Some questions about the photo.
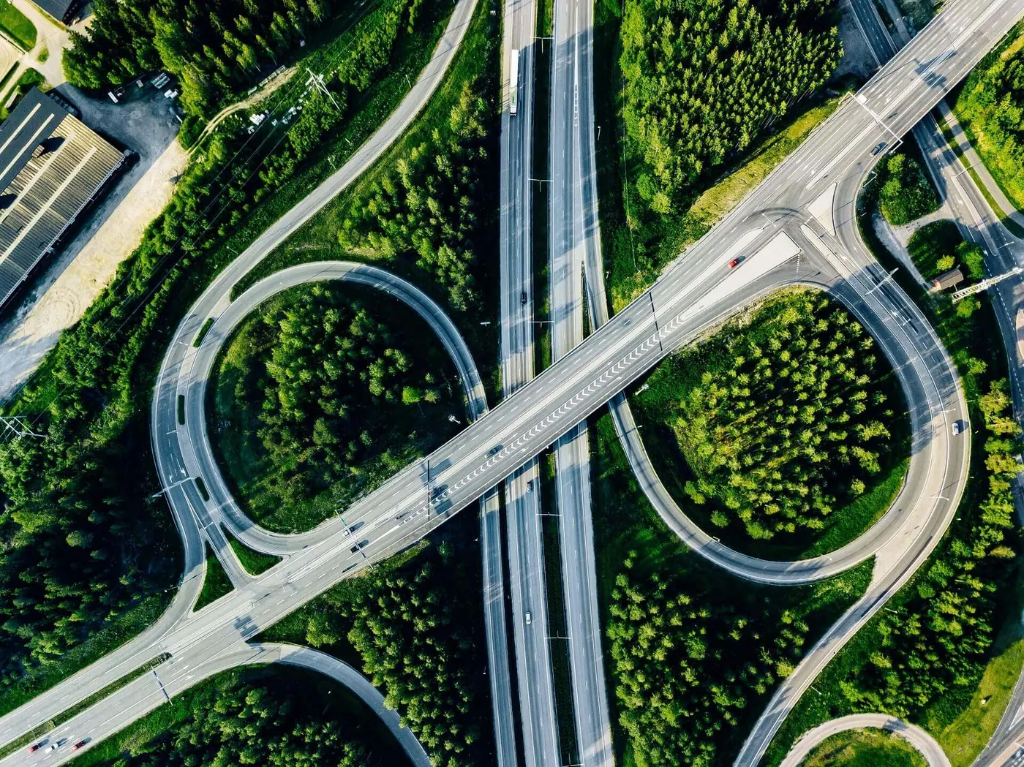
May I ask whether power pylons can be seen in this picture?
Yes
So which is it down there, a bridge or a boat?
bridge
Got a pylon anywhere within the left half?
Yes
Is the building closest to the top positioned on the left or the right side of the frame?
left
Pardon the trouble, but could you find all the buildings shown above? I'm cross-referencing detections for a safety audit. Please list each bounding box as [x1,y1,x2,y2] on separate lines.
[0,87,132,321]
[923,265,960,294]
[33,0,85,29]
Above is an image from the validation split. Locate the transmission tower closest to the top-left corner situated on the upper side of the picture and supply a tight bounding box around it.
[303,68,341,115]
